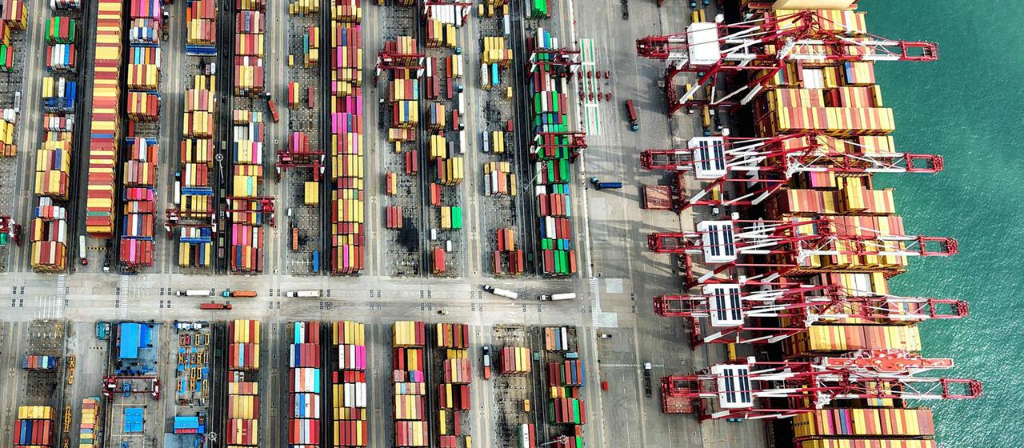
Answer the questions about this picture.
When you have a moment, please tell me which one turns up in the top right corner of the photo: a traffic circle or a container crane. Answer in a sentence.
There is a container crane in the top right corner of the photo.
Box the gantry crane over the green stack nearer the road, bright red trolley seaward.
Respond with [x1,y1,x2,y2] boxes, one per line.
[528,131,589,168]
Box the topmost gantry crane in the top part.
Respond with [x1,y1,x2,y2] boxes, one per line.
[418,0,472,30]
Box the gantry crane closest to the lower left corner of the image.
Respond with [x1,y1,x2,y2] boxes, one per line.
[102,375,161,405]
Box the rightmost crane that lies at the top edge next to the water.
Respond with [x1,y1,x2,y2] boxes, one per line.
[629,12,929,117]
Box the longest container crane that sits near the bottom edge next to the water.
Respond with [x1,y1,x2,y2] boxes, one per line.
[659,353,987,428]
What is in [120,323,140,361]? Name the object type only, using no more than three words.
building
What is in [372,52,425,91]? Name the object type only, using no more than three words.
container crane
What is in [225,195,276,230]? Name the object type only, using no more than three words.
container crane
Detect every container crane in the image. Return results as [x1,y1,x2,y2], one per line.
[528,131,589,168]
[638,127,948,217]
[652,274,972,354]
[164,210,218,244]
[659,353,987,428]
[276,149,327,186]
[102,375,161,405]
[646,212,962,294]
[629,12,929,117]
[418,0,472,30]
[524,48,582,88]
[372,52,425,91]
[225,195,276,230]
